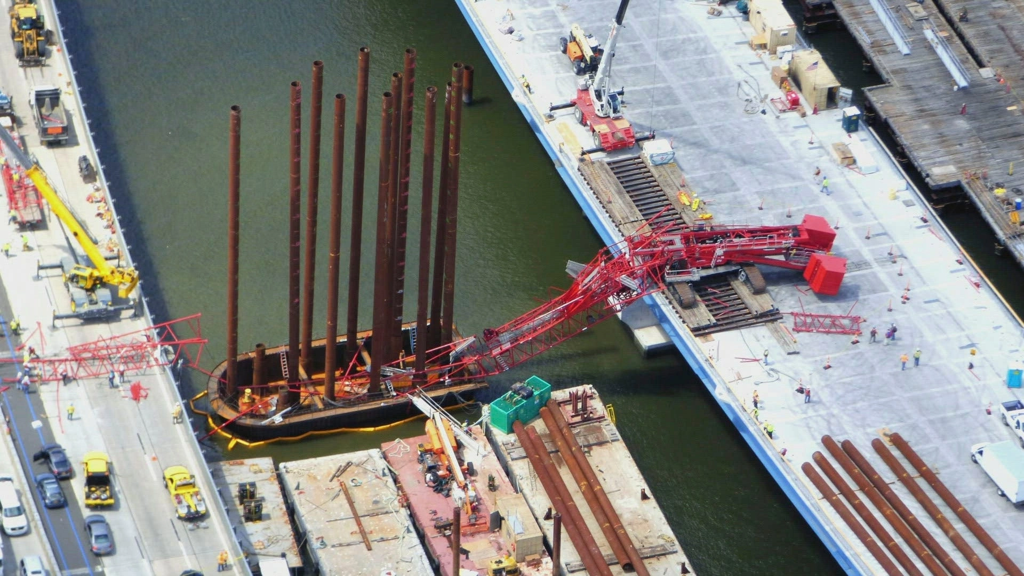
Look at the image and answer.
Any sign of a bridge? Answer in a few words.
Yes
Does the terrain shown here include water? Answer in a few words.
Yes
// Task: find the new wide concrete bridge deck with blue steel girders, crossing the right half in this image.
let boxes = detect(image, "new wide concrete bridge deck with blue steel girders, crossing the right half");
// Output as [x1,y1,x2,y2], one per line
[442,0,1024,576]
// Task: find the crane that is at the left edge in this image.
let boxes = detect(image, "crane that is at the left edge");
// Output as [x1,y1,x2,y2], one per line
[0,120,152,338]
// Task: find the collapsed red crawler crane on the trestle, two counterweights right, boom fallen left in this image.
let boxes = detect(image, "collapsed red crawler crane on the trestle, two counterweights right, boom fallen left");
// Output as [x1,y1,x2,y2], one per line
[238,207,847,415]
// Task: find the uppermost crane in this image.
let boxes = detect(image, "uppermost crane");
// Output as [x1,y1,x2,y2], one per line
[551,0,662,160]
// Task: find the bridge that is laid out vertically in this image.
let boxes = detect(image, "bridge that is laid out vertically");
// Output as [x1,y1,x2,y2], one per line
[0,0,254,576]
